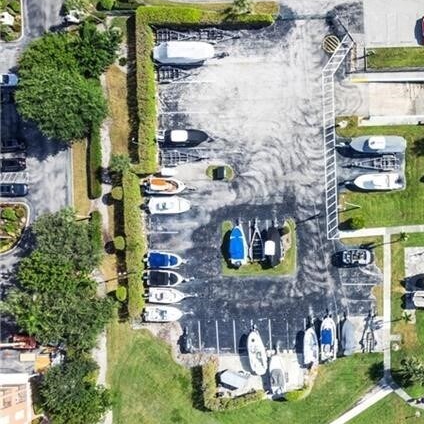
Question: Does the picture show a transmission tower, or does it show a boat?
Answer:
boat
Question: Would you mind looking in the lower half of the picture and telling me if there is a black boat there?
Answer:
Yes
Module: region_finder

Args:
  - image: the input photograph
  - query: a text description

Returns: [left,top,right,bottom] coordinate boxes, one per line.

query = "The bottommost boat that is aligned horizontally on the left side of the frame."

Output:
[143,305,183,322]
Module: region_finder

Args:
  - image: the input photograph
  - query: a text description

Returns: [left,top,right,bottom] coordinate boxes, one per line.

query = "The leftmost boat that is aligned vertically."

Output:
[231,228,247,270]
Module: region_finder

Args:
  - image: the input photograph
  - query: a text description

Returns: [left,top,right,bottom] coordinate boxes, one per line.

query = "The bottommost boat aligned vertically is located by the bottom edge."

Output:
[270,355,287,403]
